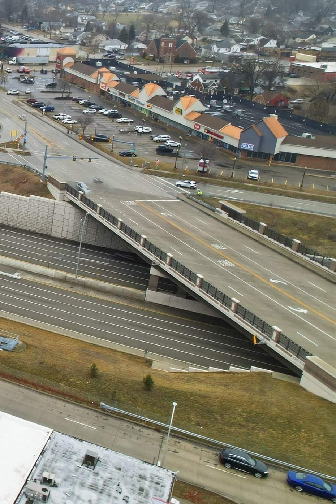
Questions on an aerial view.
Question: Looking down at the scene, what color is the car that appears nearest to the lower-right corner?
blue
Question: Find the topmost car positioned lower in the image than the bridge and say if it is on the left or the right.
right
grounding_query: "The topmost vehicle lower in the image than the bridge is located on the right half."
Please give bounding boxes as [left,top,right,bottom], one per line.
[217,448,274,481]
